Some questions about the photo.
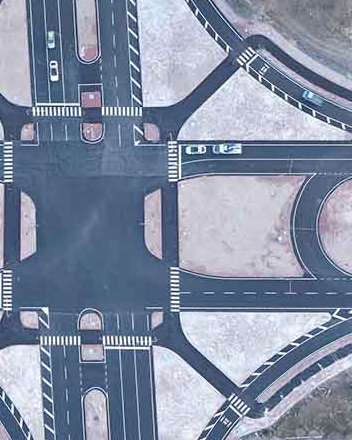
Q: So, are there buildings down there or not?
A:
No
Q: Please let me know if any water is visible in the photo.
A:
No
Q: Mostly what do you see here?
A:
paved ground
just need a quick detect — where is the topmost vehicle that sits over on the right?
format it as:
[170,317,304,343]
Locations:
[303,90,325,106]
